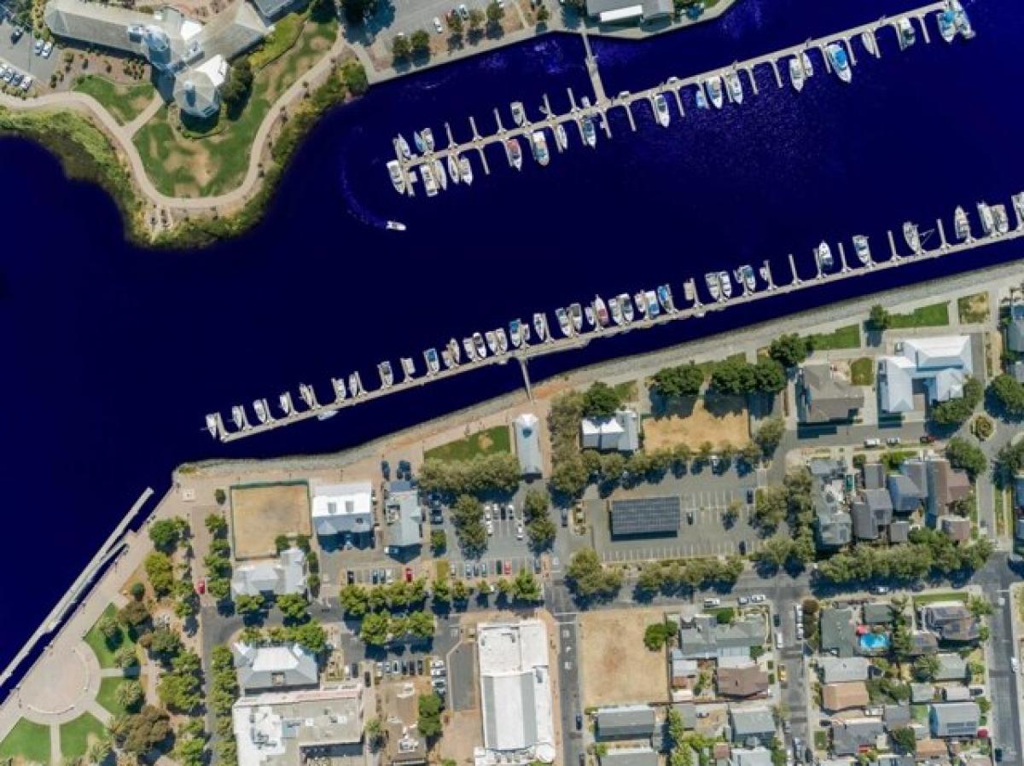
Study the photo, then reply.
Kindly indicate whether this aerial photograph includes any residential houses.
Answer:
Yes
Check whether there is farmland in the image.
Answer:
No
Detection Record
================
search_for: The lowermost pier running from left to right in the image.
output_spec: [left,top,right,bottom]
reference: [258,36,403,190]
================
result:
[216,196,1024,442]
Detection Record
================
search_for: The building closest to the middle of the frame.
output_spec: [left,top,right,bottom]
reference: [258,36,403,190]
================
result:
[515,413,541,475]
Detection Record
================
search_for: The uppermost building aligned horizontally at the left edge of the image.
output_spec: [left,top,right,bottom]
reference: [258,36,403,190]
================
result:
[44,0,278,72]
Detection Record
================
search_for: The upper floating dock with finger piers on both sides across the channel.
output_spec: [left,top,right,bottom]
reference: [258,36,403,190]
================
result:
[393,1,957,195]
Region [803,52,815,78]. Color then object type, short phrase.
white boat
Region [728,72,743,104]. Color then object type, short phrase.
white boat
